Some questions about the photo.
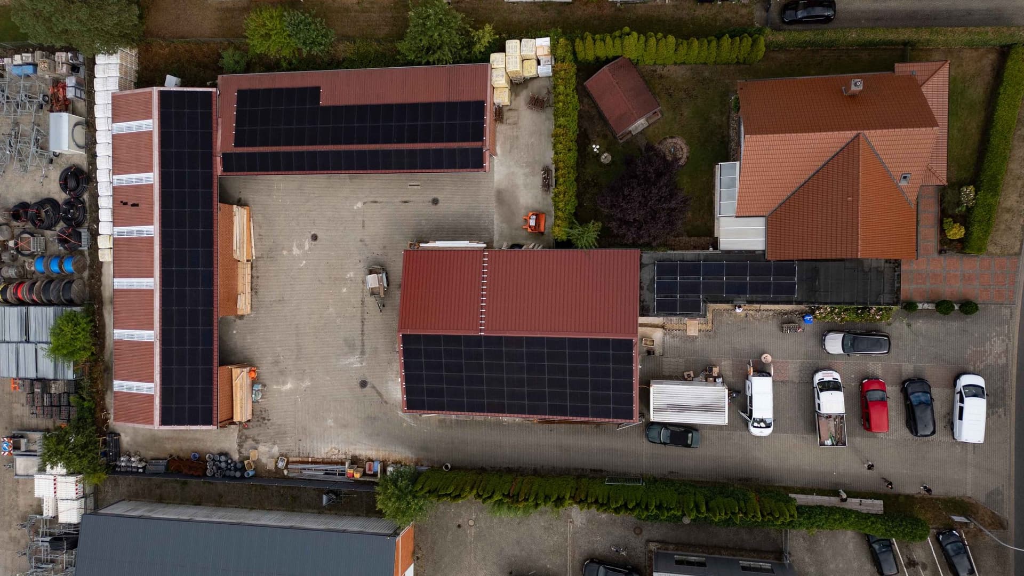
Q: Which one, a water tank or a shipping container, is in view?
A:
shipping container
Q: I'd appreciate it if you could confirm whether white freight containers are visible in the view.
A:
Yes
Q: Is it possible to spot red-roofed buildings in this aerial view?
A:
Yes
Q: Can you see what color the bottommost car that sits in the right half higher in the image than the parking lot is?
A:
black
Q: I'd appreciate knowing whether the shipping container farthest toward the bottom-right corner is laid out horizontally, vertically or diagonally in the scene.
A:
horizontally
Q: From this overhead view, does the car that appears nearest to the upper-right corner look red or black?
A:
black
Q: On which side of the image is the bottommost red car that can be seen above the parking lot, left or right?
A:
right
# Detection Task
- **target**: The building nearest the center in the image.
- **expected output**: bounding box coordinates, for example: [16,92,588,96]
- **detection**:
[397,247,643,425]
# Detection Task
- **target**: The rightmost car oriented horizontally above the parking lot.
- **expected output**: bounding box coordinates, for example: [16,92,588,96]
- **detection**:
[821,328,889,358]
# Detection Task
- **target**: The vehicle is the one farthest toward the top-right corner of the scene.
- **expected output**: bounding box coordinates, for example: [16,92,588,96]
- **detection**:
[777,0,840,27]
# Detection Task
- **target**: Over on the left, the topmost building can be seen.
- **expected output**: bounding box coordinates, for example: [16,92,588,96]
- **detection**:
[216,62,496,178]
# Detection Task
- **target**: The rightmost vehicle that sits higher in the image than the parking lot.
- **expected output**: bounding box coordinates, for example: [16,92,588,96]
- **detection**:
[947,374,987,442]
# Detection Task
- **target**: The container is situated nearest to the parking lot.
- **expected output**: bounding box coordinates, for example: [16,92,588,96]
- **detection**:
[649,380,729,426]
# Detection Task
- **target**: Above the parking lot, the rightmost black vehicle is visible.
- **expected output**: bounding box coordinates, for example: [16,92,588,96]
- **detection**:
[899,379,936,437]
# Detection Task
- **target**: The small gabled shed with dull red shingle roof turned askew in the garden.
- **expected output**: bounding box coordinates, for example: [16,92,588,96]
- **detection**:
[584,57,661,139]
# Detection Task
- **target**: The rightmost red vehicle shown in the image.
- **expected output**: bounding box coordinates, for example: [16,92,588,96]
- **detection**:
[858,380,890,433]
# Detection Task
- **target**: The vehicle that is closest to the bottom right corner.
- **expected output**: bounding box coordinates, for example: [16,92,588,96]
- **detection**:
[932,525,976,576]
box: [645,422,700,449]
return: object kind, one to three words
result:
car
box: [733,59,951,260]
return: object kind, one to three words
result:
house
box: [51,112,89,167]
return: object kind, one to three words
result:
trailer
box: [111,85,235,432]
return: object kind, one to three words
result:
building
